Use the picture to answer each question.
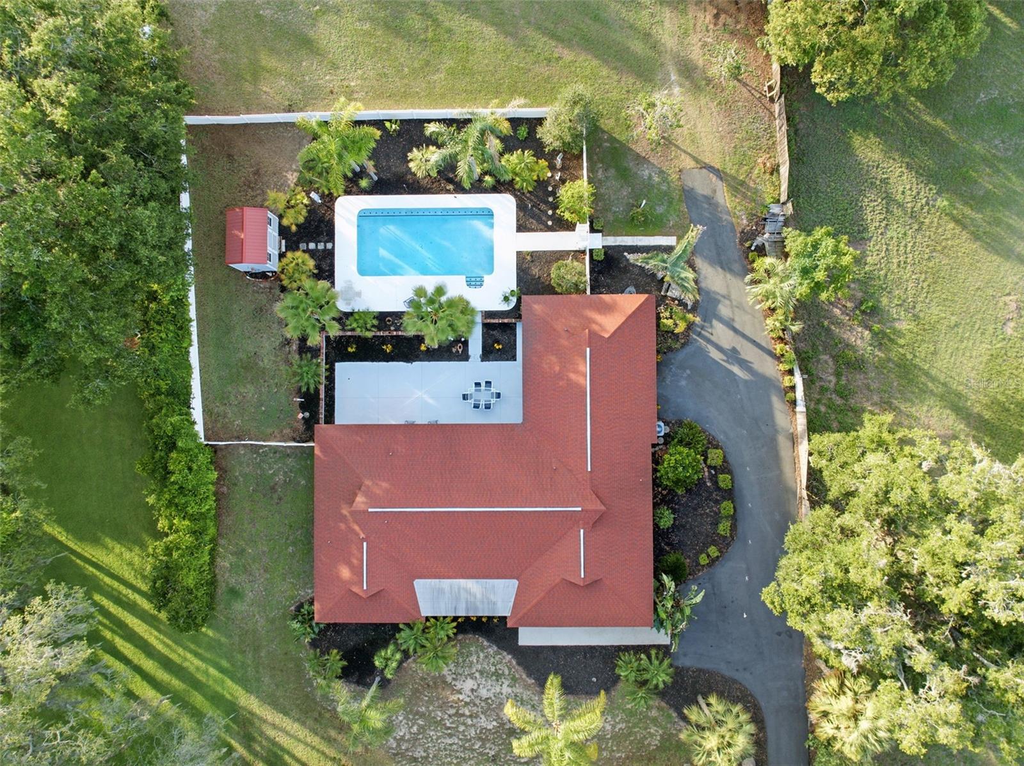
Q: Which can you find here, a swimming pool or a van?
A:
swimming pool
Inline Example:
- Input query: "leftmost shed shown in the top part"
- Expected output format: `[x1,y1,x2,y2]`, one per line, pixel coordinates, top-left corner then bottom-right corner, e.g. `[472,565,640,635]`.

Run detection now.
[225,203,277,269]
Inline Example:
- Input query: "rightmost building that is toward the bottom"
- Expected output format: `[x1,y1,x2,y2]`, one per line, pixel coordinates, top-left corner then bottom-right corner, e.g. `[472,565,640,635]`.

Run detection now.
[313,293,654,628]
